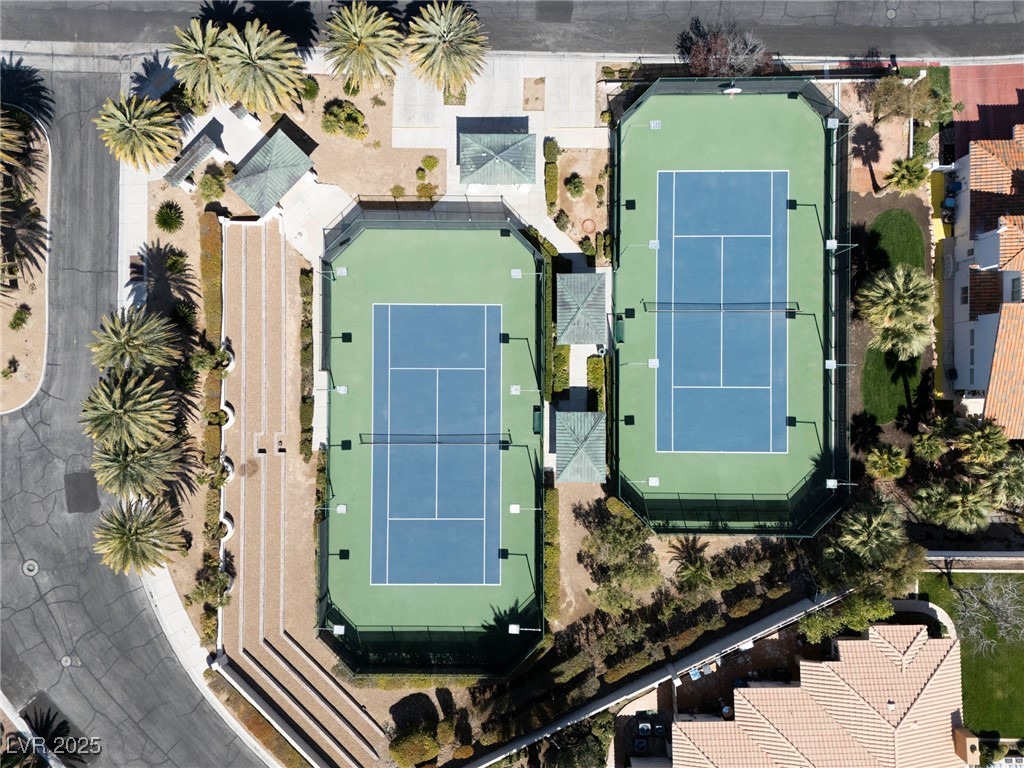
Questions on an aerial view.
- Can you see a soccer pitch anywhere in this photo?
No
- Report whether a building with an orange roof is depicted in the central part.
No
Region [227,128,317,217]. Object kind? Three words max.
building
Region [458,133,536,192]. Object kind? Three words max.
building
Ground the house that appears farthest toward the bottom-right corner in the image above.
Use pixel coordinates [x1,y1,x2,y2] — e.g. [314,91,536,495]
[672,624,980,768]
